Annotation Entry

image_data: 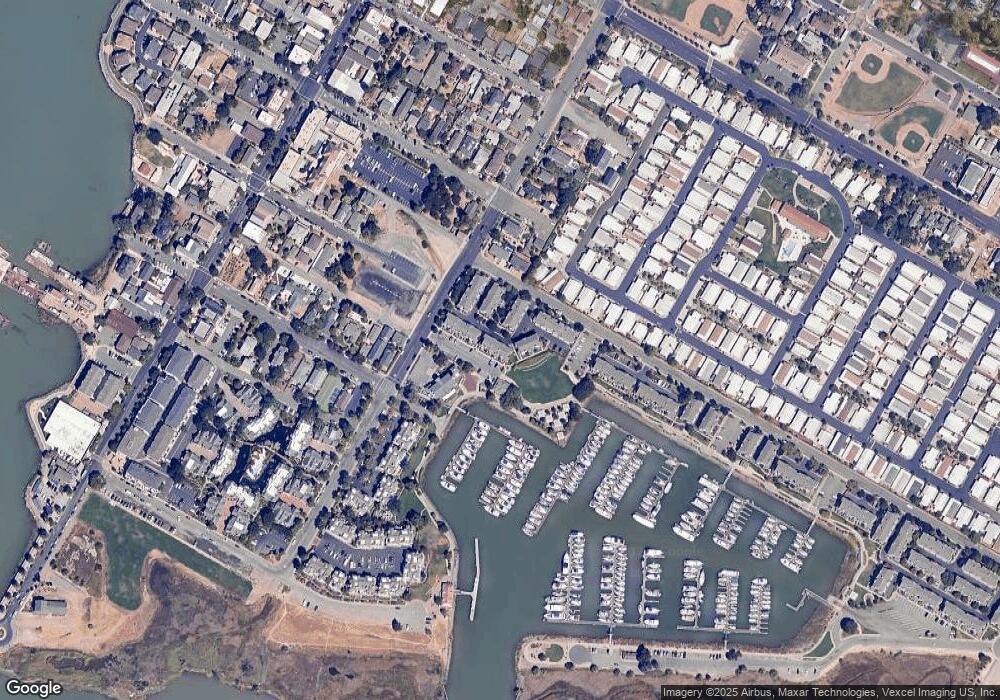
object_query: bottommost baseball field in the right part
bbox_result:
[876,101,949,169]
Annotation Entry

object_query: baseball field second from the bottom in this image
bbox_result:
[824,40,926,118]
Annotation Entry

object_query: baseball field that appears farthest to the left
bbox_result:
[636,0,749,50]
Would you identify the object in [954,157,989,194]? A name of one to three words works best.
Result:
house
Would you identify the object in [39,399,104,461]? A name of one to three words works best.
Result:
building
